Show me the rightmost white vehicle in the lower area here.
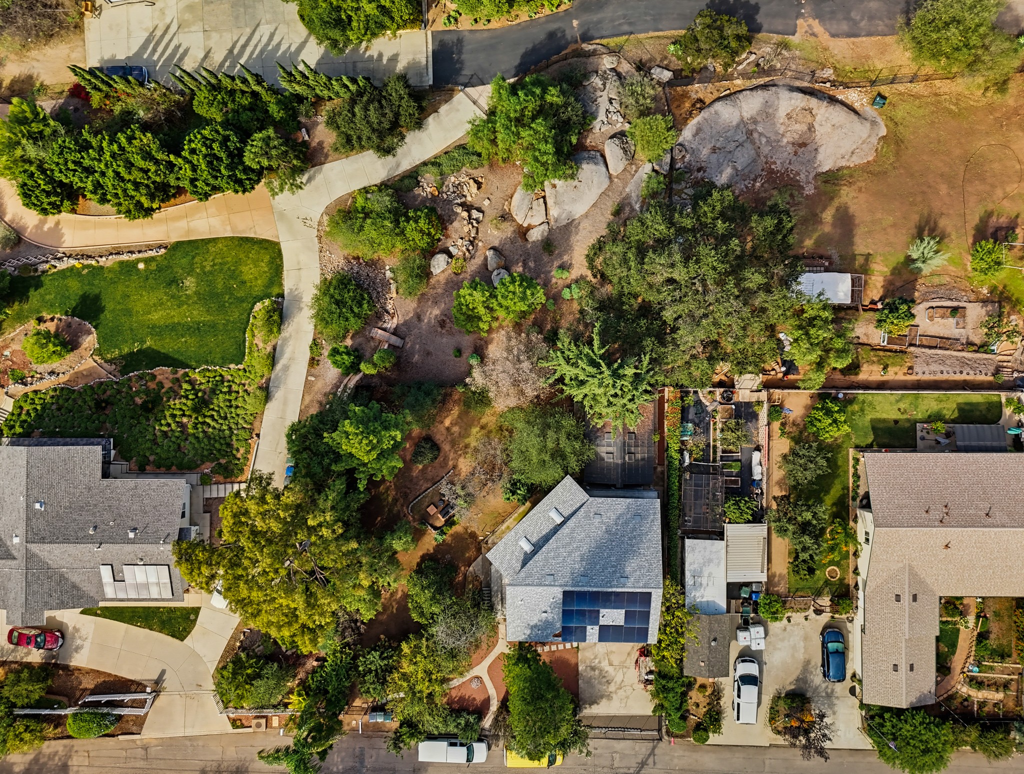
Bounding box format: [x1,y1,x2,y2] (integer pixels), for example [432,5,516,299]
[731,655,761,729]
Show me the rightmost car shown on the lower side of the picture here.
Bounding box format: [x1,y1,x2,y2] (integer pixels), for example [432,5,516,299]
[818,626,848,683]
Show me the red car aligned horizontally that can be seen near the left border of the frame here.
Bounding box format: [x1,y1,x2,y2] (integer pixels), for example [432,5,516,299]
[7,625,68,654]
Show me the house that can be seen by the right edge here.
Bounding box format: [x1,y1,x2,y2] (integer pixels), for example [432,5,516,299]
[849,451,1024,708]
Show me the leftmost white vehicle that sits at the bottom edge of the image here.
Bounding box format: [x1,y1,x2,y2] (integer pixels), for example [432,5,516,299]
[417,735,488,768]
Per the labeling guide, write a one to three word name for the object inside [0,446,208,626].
house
